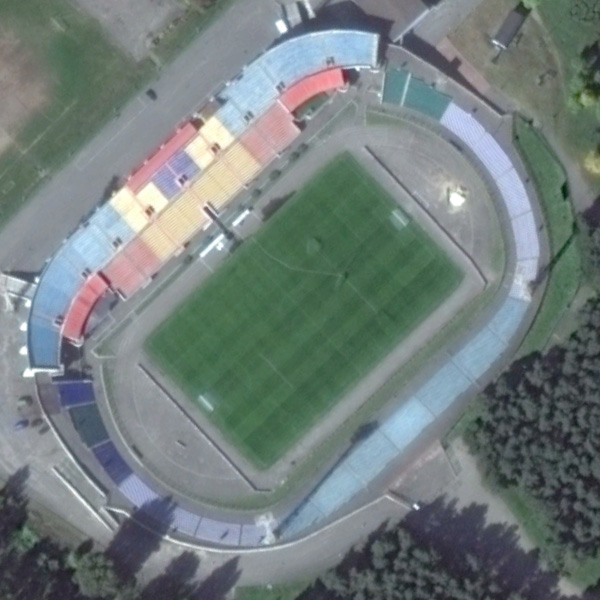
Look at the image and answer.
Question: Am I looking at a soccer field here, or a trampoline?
soccer field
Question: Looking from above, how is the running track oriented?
on a diagonal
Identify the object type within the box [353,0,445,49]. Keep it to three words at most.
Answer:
building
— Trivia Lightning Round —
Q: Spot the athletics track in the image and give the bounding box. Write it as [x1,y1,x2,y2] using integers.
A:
[107,118,496,504]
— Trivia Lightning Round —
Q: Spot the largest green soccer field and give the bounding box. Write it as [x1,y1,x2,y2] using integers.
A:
[142,154,468,468]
